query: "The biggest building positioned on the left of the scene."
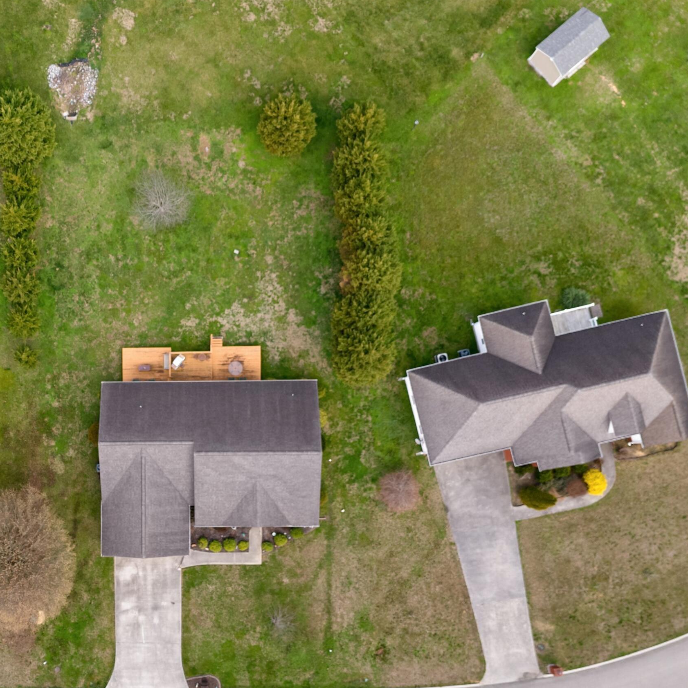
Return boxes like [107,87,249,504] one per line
[98,379,322,559]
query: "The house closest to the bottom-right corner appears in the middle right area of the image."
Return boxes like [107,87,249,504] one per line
[396,300,688,471]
